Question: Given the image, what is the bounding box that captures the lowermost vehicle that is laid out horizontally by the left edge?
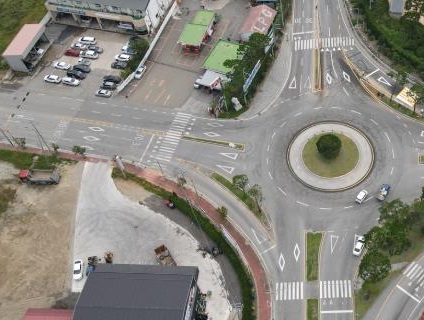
[17,169,61,184]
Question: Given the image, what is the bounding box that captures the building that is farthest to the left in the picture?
[2,25,46,68]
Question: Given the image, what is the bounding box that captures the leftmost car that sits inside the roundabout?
[356,190,369,204]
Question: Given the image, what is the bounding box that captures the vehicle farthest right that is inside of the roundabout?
[376,183,390,201]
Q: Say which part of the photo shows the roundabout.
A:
right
